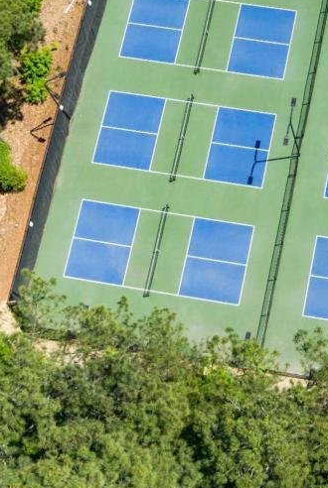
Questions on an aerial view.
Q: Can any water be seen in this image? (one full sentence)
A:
No, the scene doesn't show any water.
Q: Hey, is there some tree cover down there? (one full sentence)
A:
Yes, some tree cover is visible.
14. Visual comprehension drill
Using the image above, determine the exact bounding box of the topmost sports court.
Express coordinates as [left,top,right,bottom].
[119,0,298,79]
